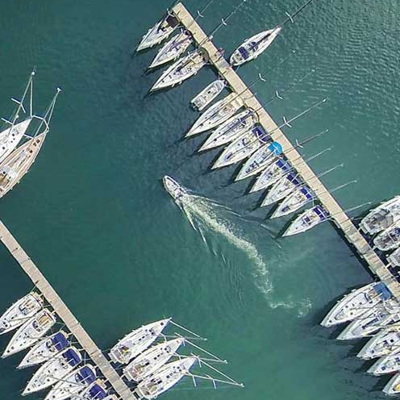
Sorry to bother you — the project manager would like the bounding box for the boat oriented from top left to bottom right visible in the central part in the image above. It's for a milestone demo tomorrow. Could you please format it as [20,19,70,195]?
[163,175,183,203]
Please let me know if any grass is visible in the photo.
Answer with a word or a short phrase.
No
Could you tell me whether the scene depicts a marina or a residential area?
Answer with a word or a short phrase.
marina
